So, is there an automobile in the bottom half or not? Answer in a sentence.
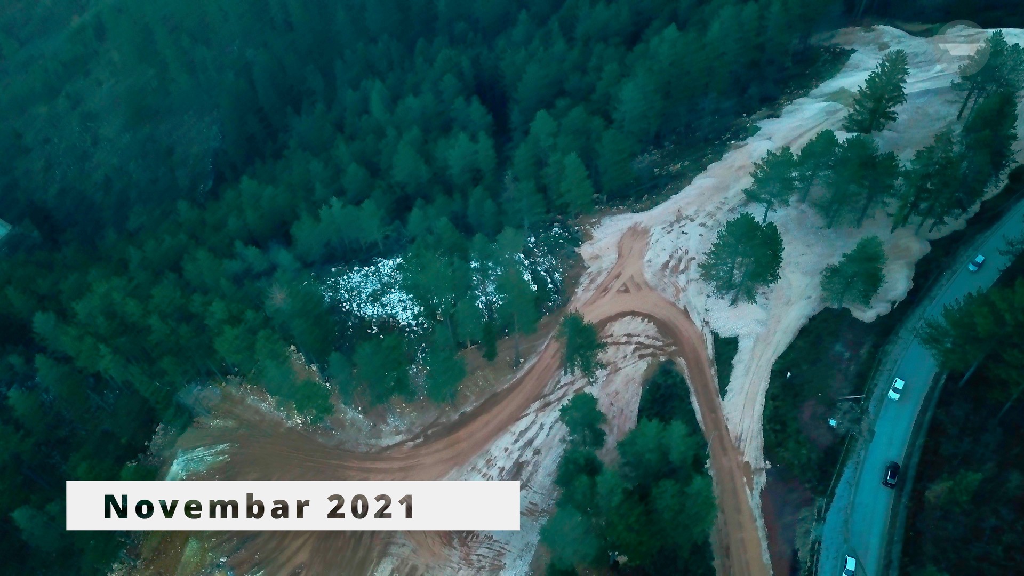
Yes, an automobile appears in the bottom half.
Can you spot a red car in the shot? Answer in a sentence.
No, no red car can be seen from above.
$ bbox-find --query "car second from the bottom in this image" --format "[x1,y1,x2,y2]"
[881,459,902,491]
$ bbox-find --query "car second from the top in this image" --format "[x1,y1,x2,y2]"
[885,376,907,402]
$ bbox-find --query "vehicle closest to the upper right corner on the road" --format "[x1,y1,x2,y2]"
[965,253,988,274]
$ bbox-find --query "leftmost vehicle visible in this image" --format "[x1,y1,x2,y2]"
[838,549,860,576]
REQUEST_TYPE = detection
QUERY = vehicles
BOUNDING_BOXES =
[881,459,902,491]
[885,376,907,402]
[838,549,860,576]
[965,253,988,274]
